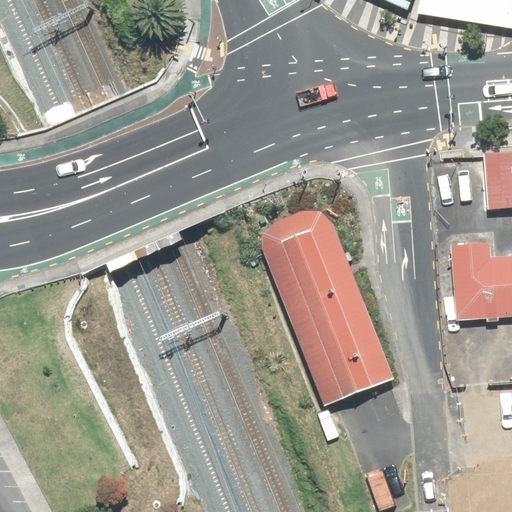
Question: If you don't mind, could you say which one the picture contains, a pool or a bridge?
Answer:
bridge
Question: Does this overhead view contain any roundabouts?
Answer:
No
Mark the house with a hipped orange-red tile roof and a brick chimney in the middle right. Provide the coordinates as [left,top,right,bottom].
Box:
[450,242,512,320]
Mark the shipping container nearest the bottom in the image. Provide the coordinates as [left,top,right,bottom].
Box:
[367,468,398,512]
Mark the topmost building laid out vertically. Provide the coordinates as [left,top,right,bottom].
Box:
[484,150,512,210]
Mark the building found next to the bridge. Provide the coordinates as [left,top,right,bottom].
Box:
[262,211,394,406]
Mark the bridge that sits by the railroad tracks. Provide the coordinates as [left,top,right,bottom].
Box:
[16,66,214,276]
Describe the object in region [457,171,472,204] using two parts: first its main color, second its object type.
white vehicle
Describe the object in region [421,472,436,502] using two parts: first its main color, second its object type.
white car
